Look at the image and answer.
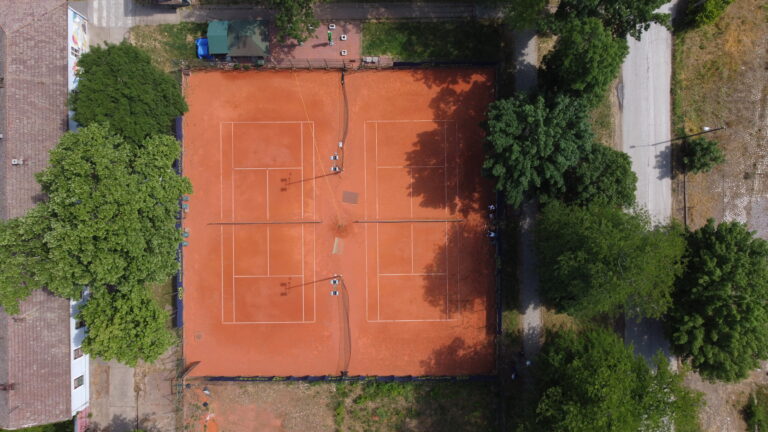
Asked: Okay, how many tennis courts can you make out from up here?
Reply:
2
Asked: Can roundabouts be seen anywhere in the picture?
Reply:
No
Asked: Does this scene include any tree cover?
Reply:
Yes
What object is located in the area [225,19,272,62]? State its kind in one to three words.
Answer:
building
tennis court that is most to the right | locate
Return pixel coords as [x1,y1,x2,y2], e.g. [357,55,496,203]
[340,68,495,376]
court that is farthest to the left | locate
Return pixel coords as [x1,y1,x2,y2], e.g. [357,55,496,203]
[183,68,340,376]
